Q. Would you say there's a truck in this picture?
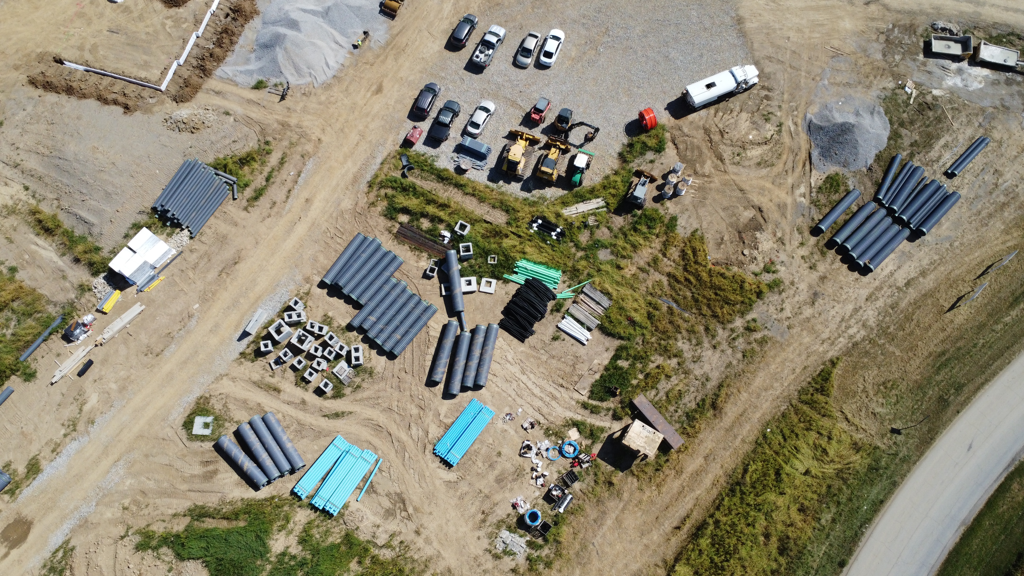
Yes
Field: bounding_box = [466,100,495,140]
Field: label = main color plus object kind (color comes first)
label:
white car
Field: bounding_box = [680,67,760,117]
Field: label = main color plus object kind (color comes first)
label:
white truck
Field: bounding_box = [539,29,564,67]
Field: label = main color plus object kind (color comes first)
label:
white car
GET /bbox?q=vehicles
[472,24,506,70]
[516,30,542,69]
[429,98,460,144]
[536,138,571,182]
[550,109,599,143]
[624,169,660,211]
[413,82,441,120]
[680,67,760,117]
[378,0,406,15]
[500,132,542,180]
[530,98,553,127]
[539,29,564,67]
[452,14,480,50]
[566,150,592,191]
[466,100,495,140]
